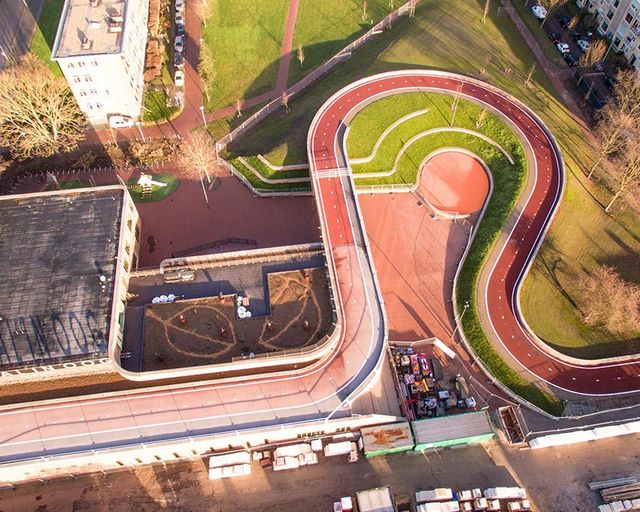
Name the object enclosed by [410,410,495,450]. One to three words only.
shed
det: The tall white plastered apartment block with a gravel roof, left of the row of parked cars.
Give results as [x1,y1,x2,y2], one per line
[51,0,149,123]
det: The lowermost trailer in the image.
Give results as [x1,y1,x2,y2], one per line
[355,488,394,512]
